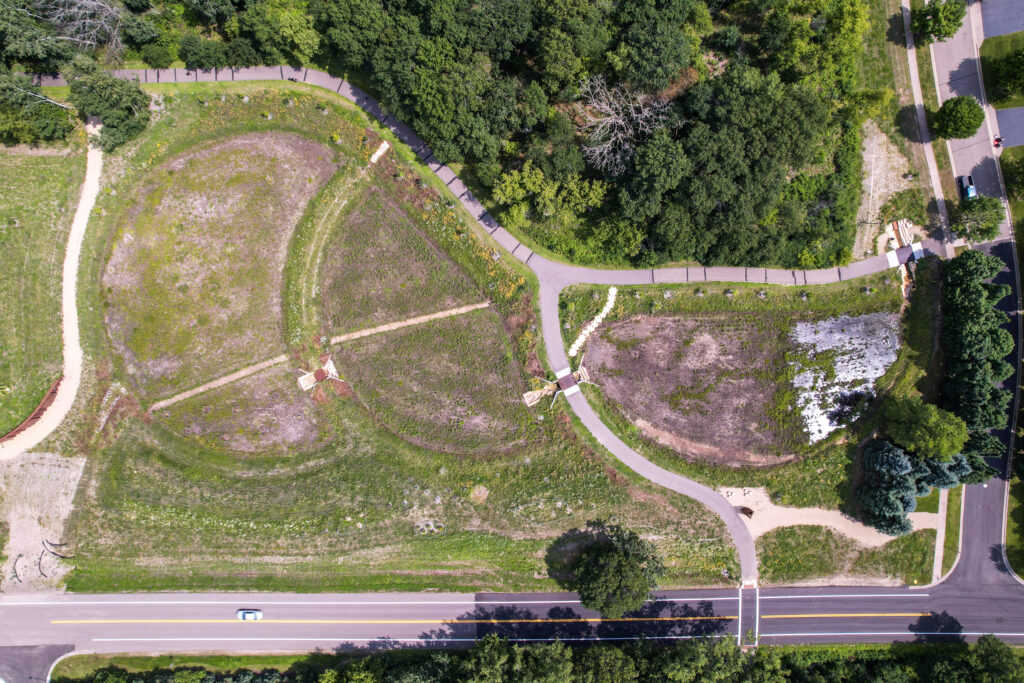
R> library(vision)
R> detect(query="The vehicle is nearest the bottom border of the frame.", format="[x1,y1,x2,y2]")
[236,609,262,621]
